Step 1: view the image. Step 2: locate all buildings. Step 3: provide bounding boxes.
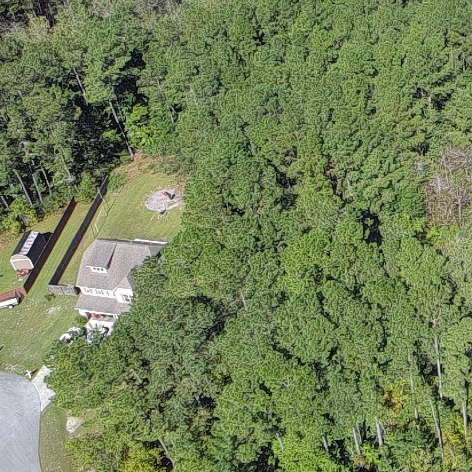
[72,244,182,328]
[0,230,46,272]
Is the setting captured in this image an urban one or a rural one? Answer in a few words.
rural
